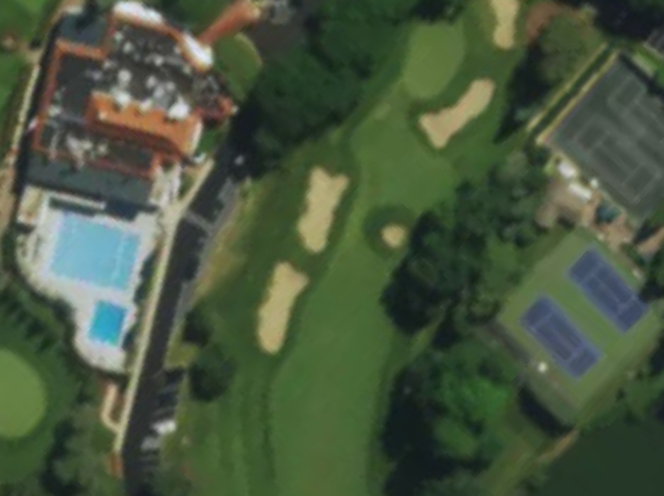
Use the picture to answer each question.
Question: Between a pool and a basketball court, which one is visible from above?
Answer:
pool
